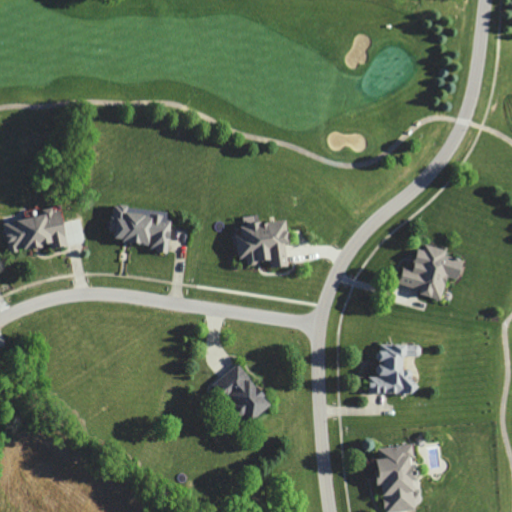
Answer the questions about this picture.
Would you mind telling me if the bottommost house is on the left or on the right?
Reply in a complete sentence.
You can find the bottommost house on the right side of the picture.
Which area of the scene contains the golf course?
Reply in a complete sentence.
The golf course is located in the top region of the scene.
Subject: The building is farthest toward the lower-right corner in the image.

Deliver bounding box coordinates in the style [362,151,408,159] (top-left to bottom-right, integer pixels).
[376,444,422,512]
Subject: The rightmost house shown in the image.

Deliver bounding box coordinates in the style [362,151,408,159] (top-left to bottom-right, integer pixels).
[401,244,466,299]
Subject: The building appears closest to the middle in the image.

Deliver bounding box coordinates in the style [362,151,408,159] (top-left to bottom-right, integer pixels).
[235,214,290,268]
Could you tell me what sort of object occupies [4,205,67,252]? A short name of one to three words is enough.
house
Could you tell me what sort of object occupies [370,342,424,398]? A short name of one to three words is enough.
house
